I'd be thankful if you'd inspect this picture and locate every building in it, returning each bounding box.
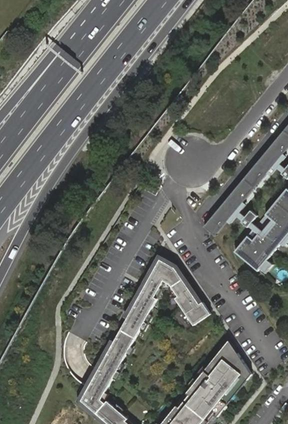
[162,342,253,424]
[202,125,288,236]
[236,188,288,274]
[75,256,212,424]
